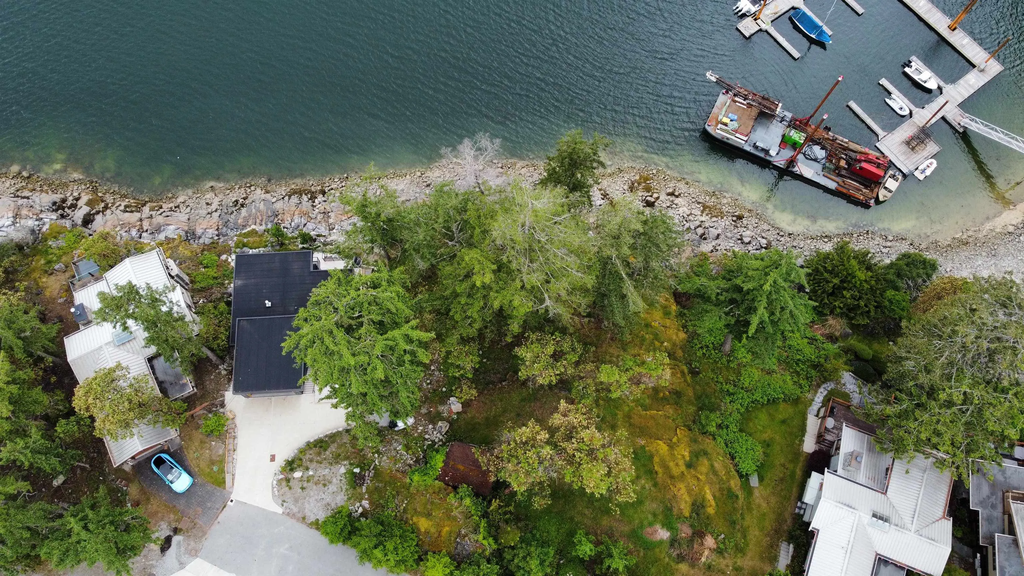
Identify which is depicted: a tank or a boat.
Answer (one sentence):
Looking from above, you can make out a boat.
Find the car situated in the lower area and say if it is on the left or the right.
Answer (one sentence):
The car situated in the lower area sits on the left side.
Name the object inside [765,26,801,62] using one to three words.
pier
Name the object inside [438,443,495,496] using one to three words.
shed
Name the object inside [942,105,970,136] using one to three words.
pier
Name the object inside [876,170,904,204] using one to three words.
boat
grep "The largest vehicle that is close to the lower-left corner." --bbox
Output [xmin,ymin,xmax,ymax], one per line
[146,449,191,496]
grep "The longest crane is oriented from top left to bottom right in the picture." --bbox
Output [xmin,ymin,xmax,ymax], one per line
[703,68,892,190]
